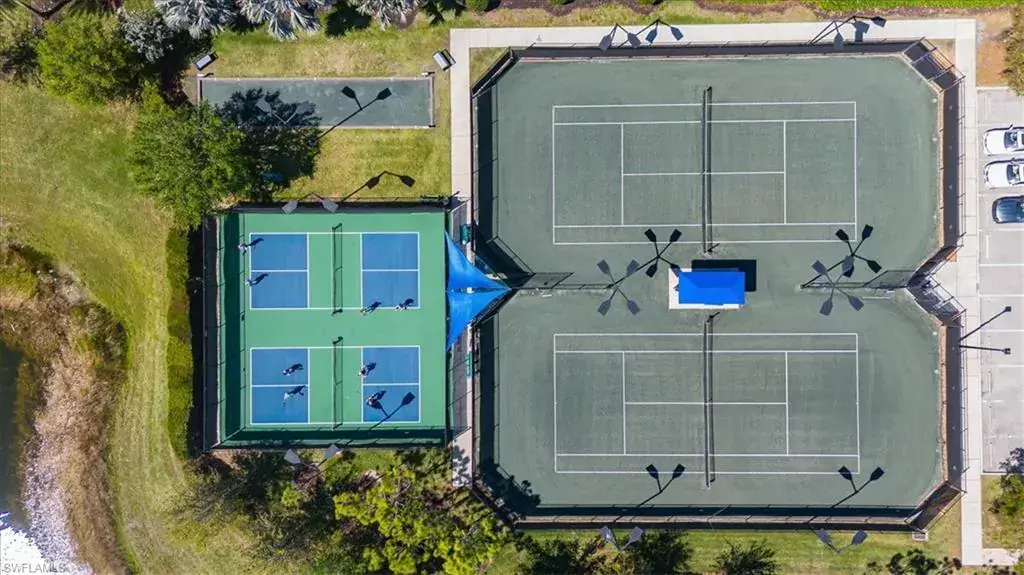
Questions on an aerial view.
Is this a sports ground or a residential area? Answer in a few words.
sports ground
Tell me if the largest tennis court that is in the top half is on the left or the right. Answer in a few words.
right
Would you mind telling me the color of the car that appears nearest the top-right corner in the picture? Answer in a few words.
white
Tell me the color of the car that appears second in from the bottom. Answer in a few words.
white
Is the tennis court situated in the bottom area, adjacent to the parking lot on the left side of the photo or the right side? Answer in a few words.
right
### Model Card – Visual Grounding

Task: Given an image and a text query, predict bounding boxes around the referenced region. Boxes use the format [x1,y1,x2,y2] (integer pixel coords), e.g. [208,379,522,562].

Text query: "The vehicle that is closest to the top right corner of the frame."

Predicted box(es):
[983,124,1024,155]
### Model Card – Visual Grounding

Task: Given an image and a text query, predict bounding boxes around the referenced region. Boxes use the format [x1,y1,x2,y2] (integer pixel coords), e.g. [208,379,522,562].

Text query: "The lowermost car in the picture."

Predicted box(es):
[991,196,1024,222]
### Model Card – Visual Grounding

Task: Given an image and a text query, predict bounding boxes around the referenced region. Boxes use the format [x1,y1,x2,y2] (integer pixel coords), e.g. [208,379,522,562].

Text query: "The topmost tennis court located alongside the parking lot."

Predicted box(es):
[474,53,944,288]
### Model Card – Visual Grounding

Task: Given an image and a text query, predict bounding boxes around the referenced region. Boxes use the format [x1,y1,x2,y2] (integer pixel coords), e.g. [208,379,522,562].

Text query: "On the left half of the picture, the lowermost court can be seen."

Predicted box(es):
[220,328,449,443]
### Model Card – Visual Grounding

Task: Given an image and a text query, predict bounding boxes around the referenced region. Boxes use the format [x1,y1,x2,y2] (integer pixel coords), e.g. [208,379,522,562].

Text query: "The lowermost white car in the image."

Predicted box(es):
[983,157,1024,188]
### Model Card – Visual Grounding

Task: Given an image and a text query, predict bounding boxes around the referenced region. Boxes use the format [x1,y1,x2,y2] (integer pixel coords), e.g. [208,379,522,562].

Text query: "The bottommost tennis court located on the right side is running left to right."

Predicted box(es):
[474,287,946,522]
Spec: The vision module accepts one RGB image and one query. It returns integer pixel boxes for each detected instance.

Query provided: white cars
[983,124,1024,155]
[983,157,1024,188]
